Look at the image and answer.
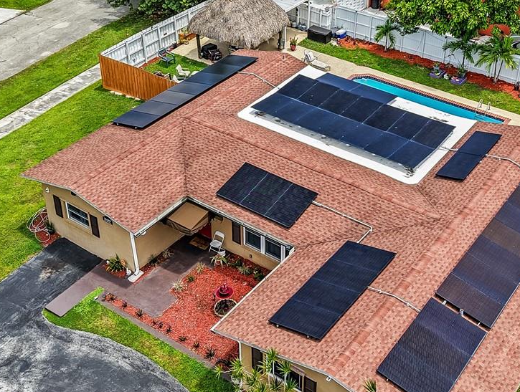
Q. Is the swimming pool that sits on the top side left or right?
right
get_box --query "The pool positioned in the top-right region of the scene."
[350,74,505,123]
